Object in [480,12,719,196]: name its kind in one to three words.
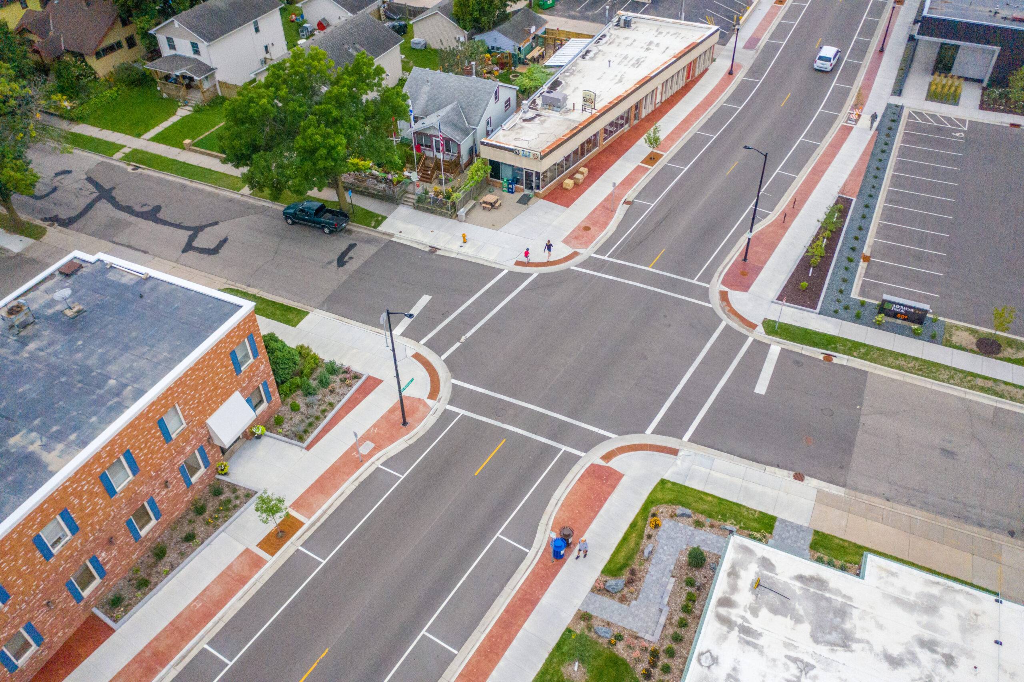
building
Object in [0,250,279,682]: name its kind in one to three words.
building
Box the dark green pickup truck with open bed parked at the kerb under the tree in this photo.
[278,199,352,235]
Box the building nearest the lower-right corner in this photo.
[683,537,1024,682]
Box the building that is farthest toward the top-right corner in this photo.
[891,0,1024,85]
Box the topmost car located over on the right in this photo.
[812,46,842,71]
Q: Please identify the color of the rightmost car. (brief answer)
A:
white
